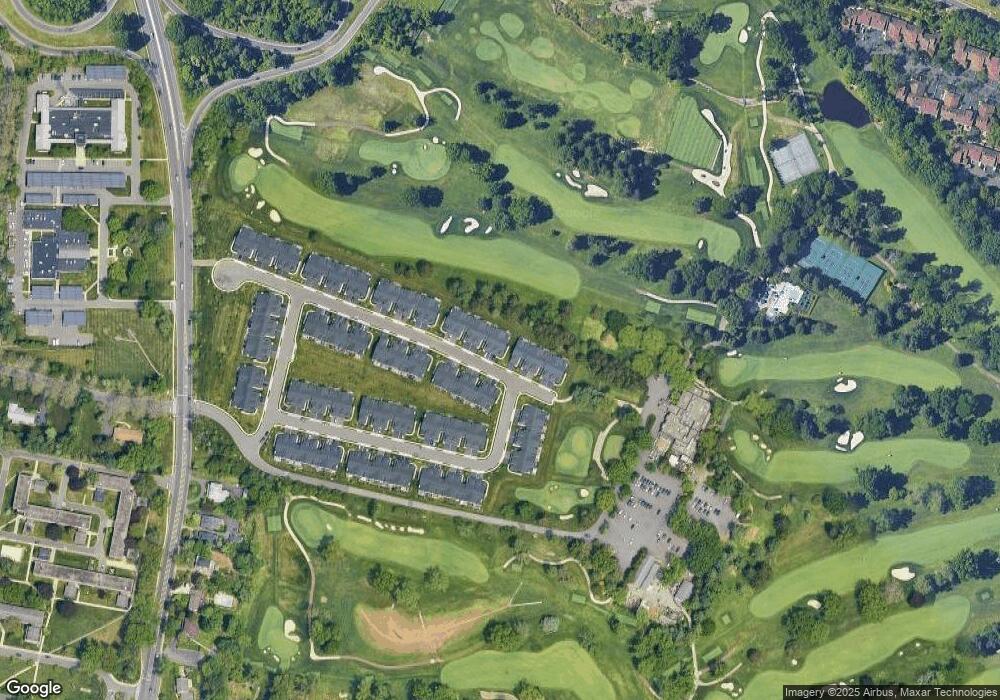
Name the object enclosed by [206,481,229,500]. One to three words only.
house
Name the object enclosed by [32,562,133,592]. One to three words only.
building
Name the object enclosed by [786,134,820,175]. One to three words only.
tennis court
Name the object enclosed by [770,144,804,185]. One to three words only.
tennis court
